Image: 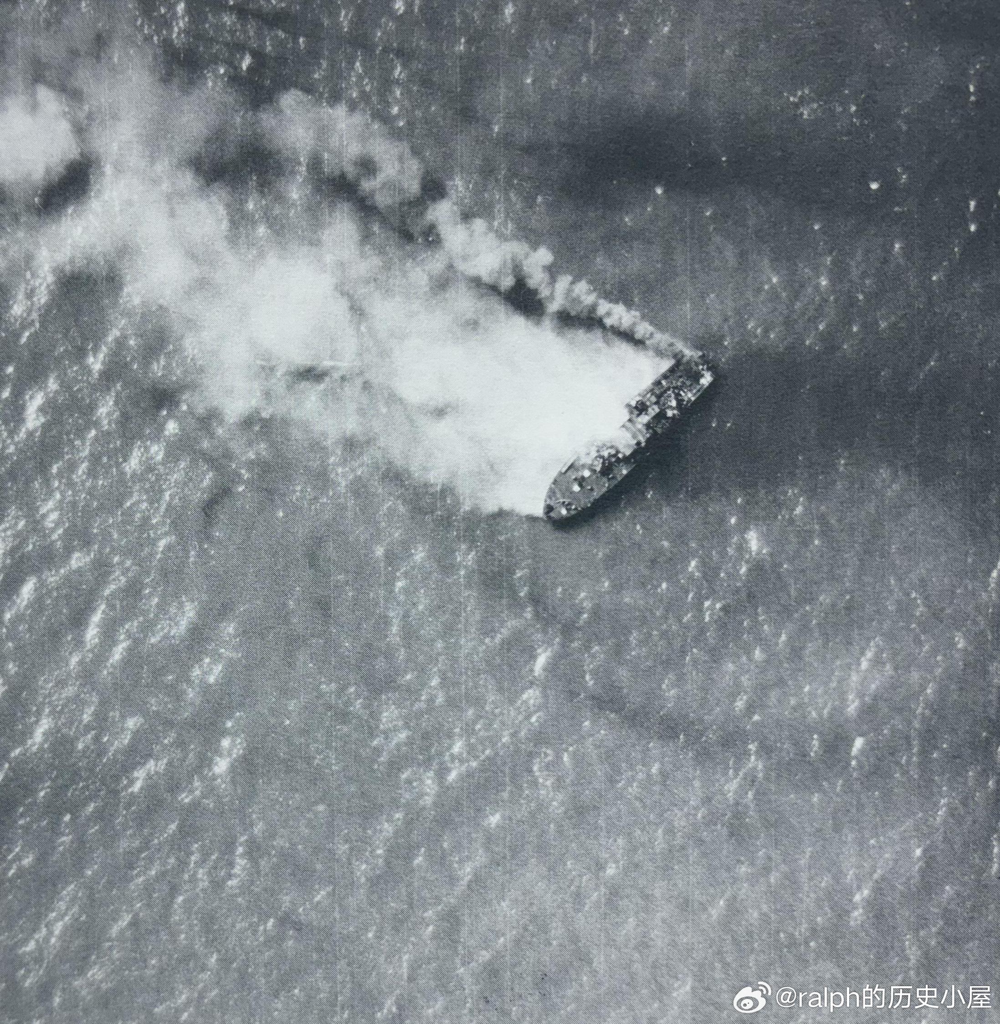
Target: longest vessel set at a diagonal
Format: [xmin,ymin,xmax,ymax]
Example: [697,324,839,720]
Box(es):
[544,349,716,525]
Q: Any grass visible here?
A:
No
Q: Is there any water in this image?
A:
Yes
